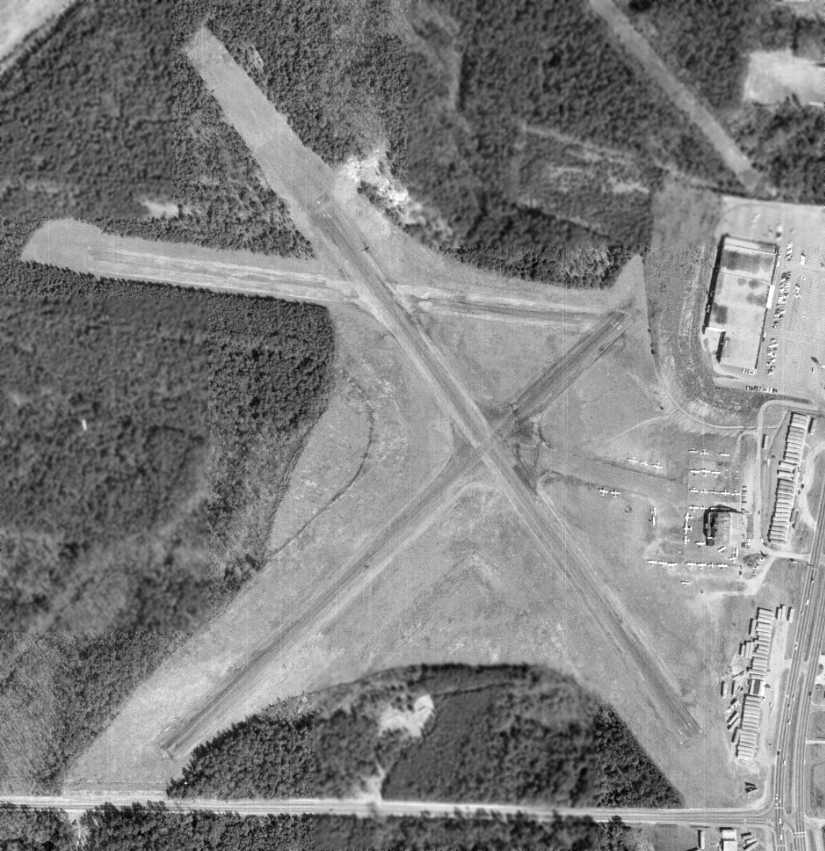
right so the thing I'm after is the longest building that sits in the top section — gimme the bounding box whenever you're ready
[706,238,779,368]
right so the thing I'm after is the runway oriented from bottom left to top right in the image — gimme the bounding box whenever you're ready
[161,310,629,759]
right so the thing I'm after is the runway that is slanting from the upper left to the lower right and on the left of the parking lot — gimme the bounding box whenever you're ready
[317,198,701,737]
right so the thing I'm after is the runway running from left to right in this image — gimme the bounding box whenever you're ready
[81,245,612,330]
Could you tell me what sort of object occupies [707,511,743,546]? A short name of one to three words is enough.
hangar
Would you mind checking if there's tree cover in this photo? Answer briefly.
Yes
